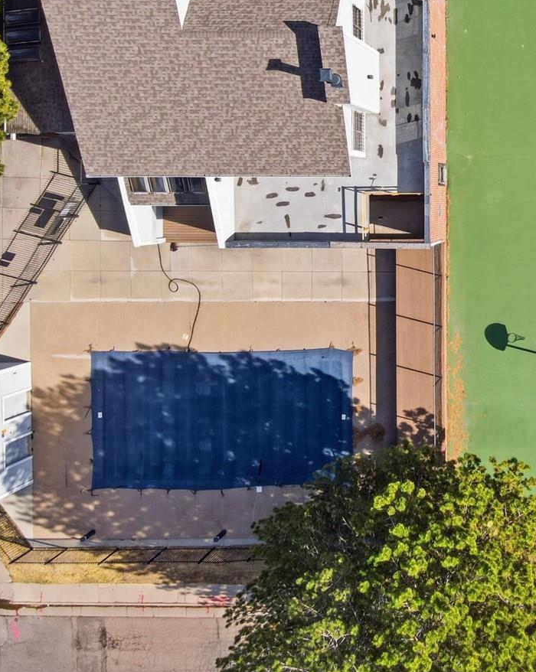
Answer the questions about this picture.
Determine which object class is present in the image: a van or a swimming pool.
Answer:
swimming pool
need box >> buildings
[0,361,35,496]
[39,0,446,252]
